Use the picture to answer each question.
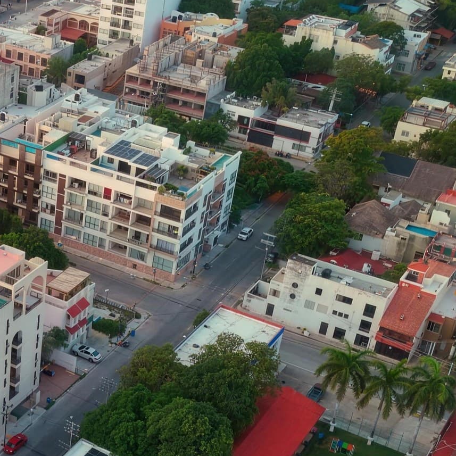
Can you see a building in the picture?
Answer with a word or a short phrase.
Yes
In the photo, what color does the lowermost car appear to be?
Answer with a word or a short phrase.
red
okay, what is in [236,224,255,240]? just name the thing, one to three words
car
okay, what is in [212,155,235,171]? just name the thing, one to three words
swimming pool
